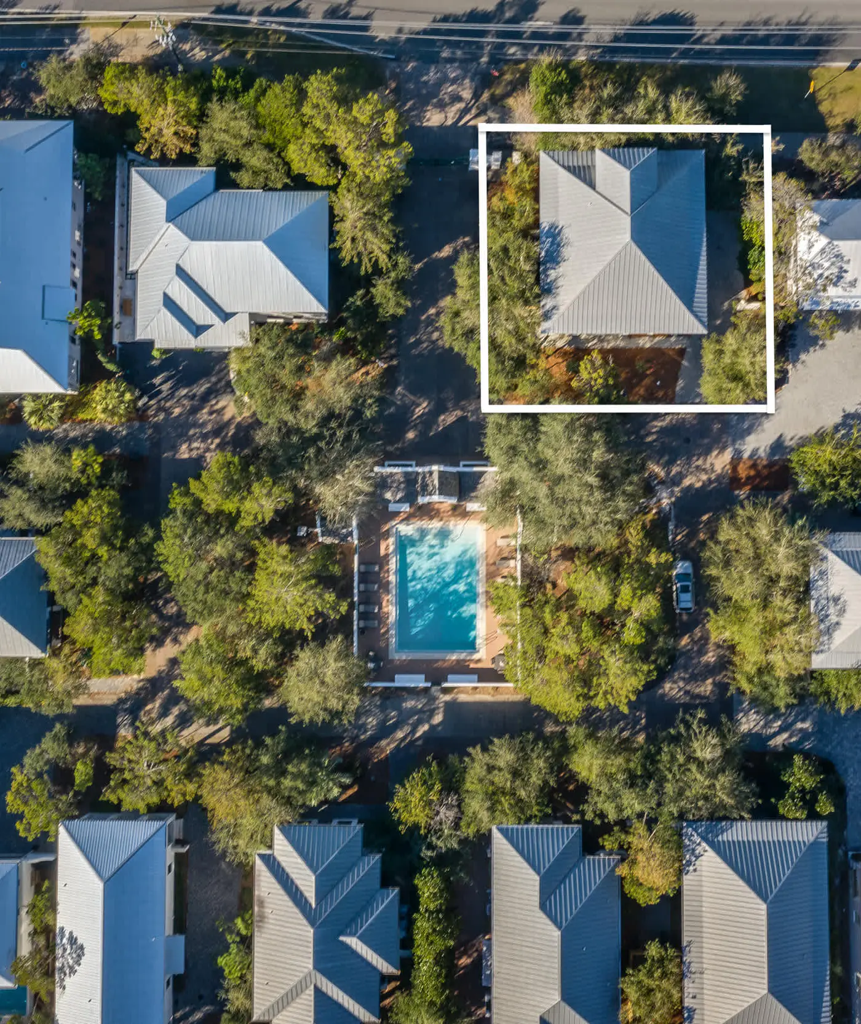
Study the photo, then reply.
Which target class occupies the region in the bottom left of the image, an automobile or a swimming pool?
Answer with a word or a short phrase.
swimming pool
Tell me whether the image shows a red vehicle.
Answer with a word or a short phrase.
No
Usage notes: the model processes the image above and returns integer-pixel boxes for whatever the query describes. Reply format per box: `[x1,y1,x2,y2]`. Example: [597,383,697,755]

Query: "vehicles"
[670,561,695,613]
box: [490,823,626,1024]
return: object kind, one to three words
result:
house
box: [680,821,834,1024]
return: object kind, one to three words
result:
house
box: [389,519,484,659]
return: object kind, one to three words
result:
swimming pool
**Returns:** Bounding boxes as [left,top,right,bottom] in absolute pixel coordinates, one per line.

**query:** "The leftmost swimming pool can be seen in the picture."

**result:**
[0,988,26,1016]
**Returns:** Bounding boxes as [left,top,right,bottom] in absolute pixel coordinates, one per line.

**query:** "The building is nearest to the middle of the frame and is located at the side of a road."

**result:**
[374,463,495,506]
